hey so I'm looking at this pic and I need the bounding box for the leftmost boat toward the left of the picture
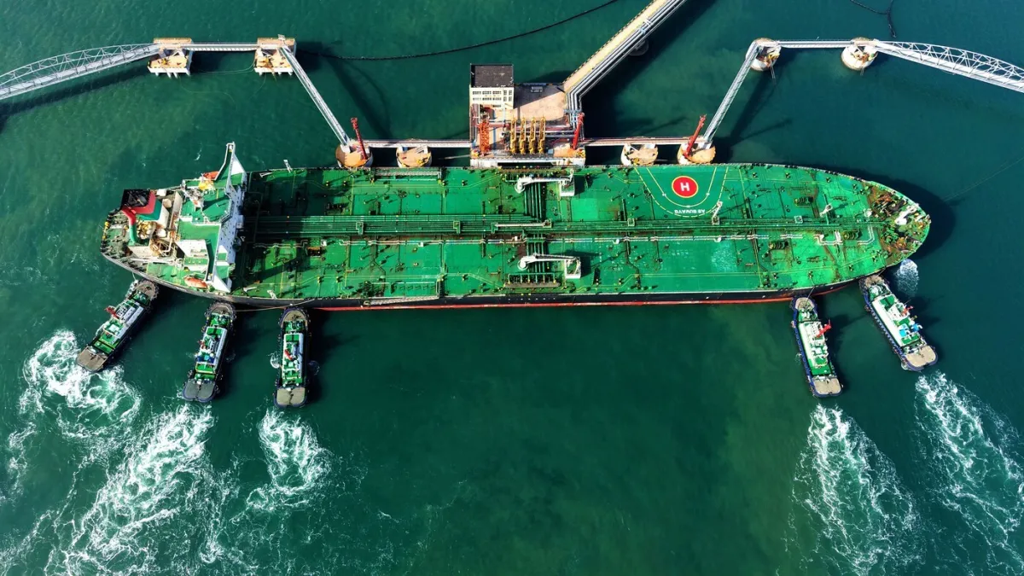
[80,279,164,376]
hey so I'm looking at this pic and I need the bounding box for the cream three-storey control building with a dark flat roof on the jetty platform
[469,62,514,115]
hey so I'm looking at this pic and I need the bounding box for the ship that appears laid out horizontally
[98,141,934,311]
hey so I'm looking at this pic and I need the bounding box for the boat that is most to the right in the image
[859,274,934,373]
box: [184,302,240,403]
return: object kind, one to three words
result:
boat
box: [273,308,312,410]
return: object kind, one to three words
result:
boat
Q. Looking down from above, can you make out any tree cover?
No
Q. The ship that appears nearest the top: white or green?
green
